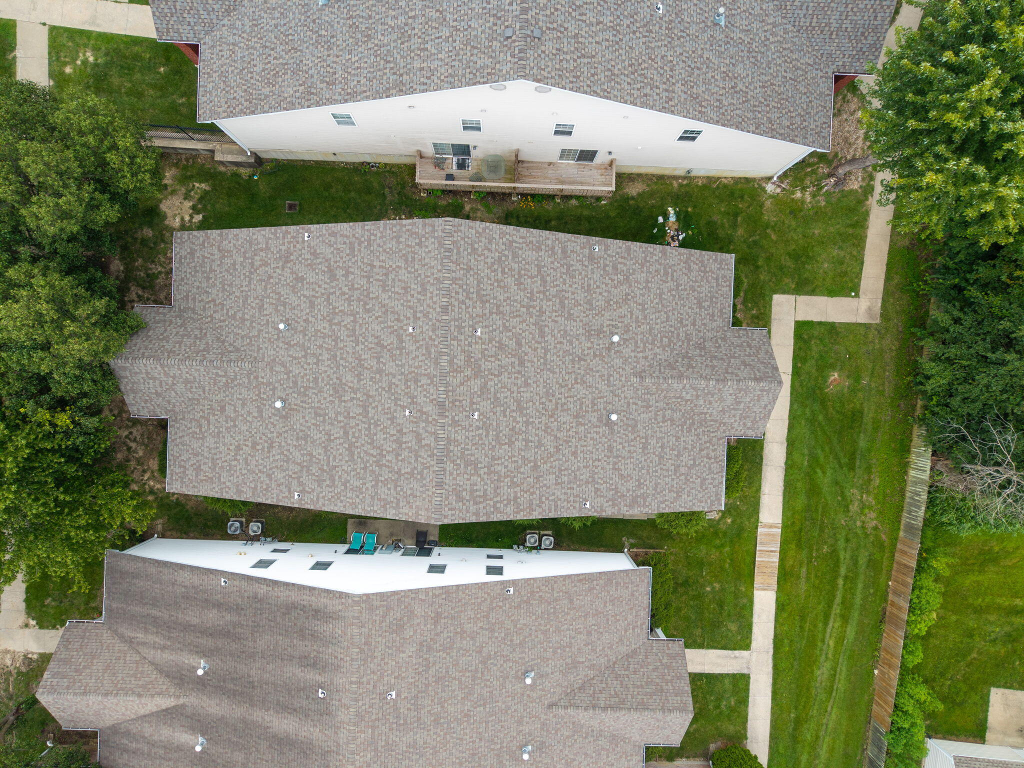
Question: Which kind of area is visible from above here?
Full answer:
It's a residential area.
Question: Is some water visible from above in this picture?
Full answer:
No, water can't be seen anywhere here.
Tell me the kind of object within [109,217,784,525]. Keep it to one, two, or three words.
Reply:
house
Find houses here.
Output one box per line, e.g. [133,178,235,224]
[109,217,784,525]
[148,0,901,186]
[924,730,1024,768]
[35,531,693,768]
